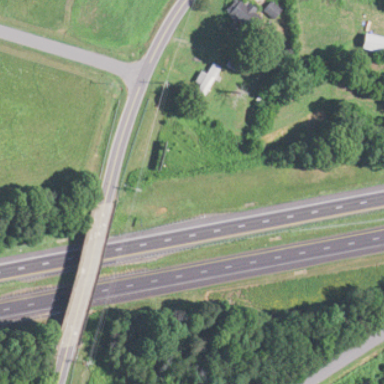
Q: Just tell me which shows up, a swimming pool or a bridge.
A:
bridge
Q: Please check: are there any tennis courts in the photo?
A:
No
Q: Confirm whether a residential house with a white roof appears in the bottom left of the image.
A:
No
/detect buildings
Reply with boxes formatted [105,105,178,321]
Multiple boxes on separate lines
[264,1,282,20]
[196,65,220,94]
[364,34,384,52]
[222,0,260,24]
